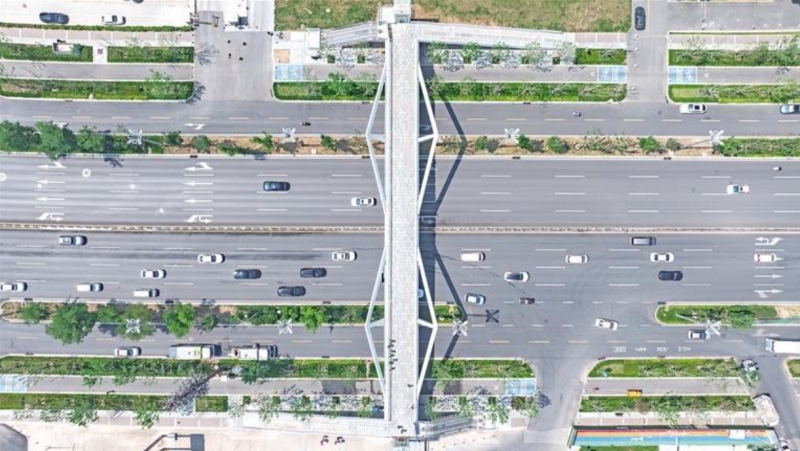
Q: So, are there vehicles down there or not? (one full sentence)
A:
Yes, there's a vehicle here.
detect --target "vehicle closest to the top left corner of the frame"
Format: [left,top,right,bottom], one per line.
[41,10,68,23]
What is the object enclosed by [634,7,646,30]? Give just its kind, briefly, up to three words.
vehicle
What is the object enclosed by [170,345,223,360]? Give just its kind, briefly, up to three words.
vehicle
